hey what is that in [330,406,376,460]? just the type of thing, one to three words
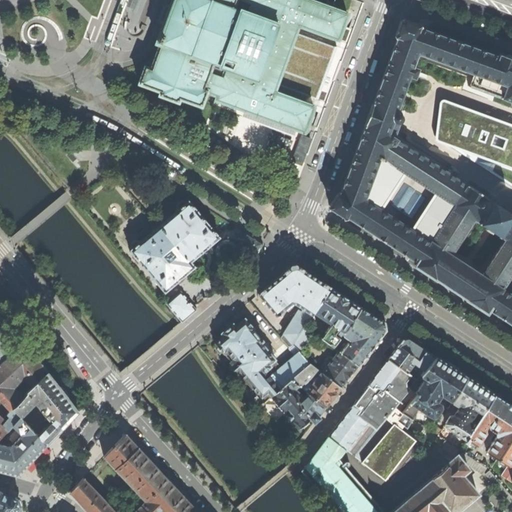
house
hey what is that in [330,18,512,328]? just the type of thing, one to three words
building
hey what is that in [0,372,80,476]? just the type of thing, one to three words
building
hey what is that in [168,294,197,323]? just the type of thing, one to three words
shed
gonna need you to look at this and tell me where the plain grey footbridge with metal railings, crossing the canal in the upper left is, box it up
[8,192,71,246]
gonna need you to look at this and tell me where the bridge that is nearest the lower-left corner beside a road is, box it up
[127,320,200,386]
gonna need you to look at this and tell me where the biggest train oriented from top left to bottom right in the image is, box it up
[92,114,184,174]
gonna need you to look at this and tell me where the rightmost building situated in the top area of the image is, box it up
[438,100,512,174]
